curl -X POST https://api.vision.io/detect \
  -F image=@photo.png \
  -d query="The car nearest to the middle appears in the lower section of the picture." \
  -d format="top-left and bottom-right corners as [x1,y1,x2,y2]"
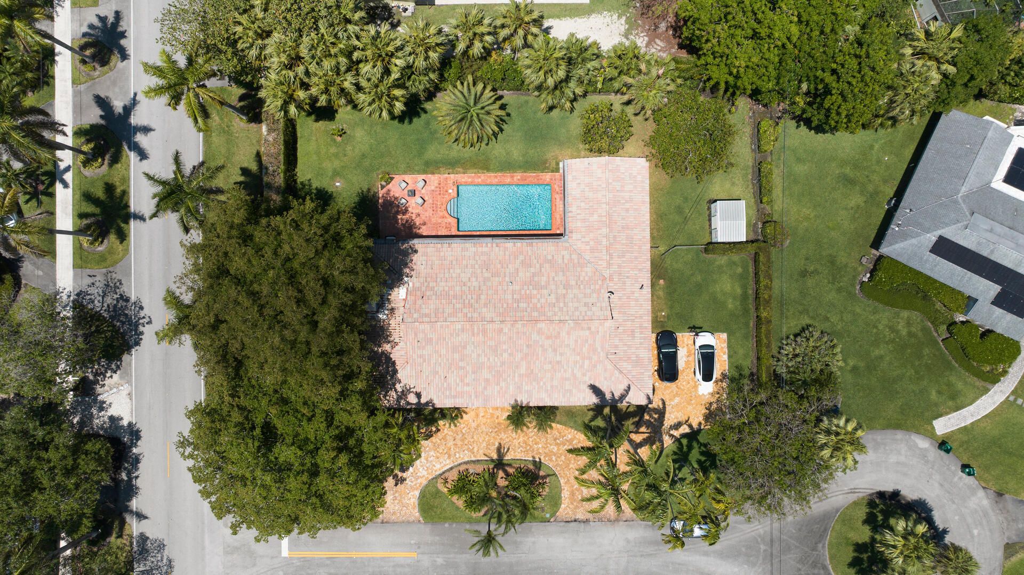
[654,330,680,383]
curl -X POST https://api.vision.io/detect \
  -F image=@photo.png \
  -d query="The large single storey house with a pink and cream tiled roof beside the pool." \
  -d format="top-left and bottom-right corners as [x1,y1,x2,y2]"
[367,156,652,407]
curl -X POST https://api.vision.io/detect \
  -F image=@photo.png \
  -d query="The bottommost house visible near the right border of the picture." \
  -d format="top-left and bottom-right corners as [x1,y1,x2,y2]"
[875,109,1024,326]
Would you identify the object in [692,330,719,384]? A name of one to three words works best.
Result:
car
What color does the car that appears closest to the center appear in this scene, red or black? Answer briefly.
black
